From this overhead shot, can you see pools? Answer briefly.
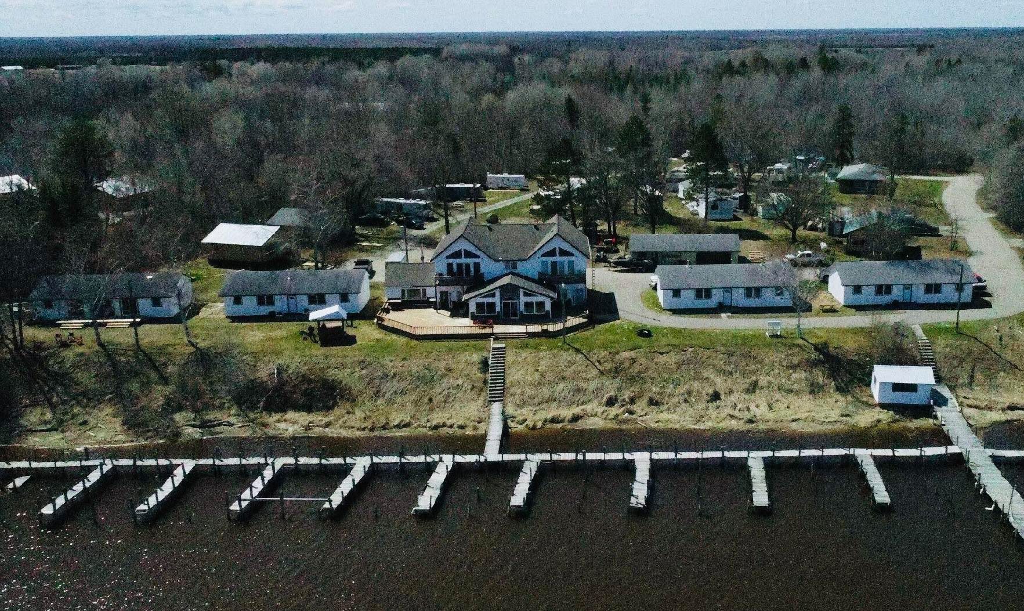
No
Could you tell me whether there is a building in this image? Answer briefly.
Yes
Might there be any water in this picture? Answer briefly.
Yes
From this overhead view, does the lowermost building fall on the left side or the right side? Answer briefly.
right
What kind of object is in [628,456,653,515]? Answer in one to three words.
pier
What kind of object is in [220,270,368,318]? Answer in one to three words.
building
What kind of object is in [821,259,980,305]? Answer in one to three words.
building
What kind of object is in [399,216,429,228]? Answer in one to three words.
vehicle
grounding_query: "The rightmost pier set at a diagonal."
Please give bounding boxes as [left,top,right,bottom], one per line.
[929,393,1024,538]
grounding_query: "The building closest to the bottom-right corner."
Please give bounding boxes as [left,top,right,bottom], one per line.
[863,368,935,405]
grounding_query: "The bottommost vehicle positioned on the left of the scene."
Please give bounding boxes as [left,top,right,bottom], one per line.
[354,261,377,278]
